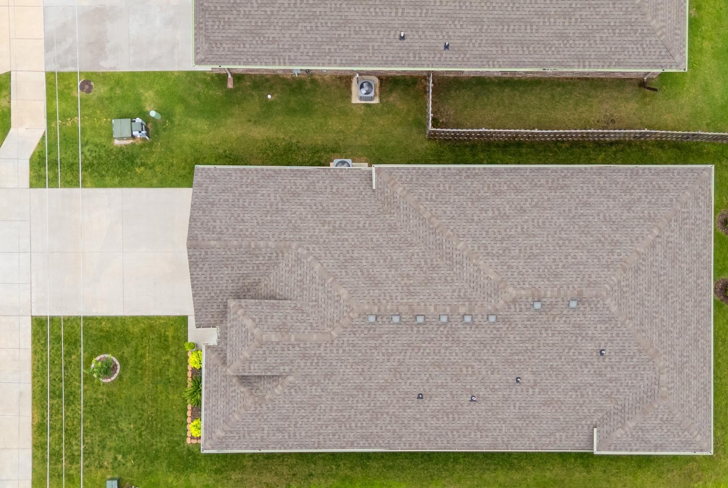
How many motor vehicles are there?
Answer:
zero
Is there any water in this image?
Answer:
No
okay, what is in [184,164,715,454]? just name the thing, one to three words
house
